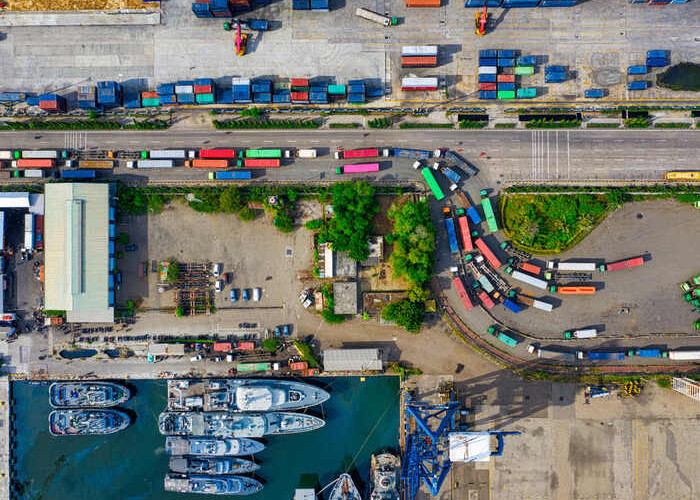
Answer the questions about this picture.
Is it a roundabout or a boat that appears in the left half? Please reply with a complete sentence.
It is a boat that can be seen in the left half.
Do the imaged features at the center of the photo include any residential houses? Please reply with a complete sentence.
Yes, a residential house appears at the center of the photo.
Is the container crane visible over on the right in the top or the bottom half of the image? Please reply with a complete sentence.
Seen from above, the container crane visible over on the right lies in the bottom half of the view.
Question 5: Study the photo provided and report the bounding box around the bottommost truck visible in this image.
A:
[582,386,613,407]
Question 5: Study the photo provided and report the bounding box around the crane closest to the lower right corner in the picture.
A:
[396,383,524,500]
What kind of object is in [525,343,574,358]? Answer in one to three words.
vehicle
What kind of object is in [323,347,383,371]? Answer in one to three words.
building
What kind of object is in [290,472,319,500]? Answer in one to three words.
ship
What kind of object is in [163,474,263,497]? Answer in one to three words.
boat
